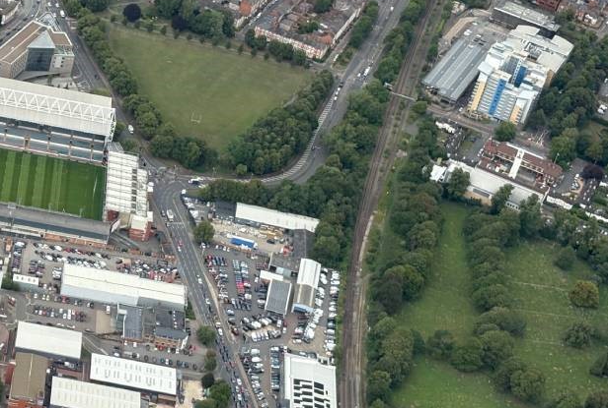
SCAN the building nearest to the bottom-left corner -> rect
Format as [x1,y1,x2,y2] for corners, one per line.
[8,351,49,408]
